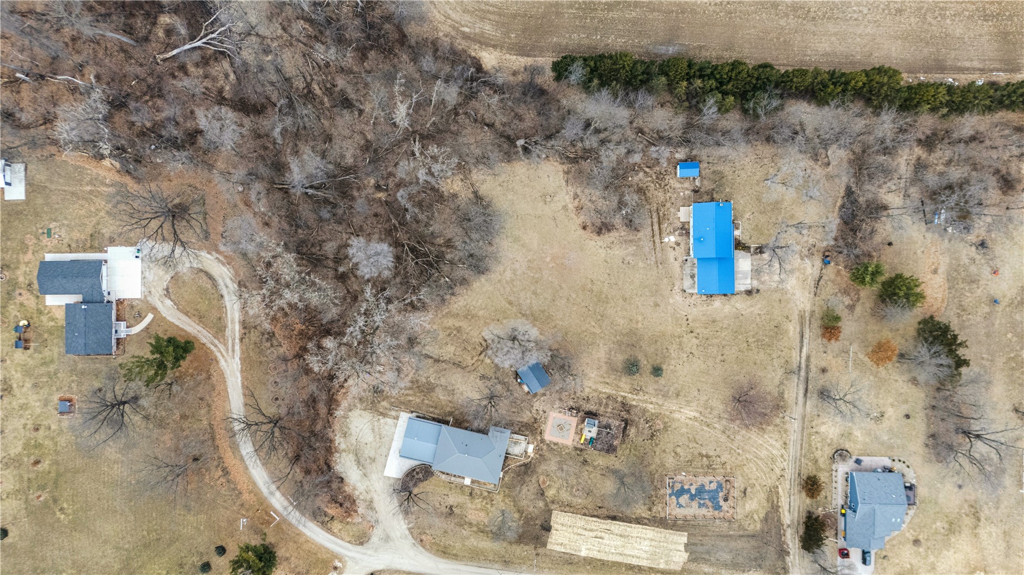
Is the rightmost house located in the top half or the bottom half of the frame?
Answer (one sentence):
The rightmost house sits in the bottom half of the picture.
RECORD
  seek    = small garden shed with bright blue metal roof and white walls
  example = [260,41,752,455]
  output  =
[677,161,699,178]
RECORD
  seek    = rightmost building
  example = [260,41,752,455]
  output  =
[842,471,908,550]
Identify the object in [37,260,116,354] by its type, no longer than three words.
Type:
house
